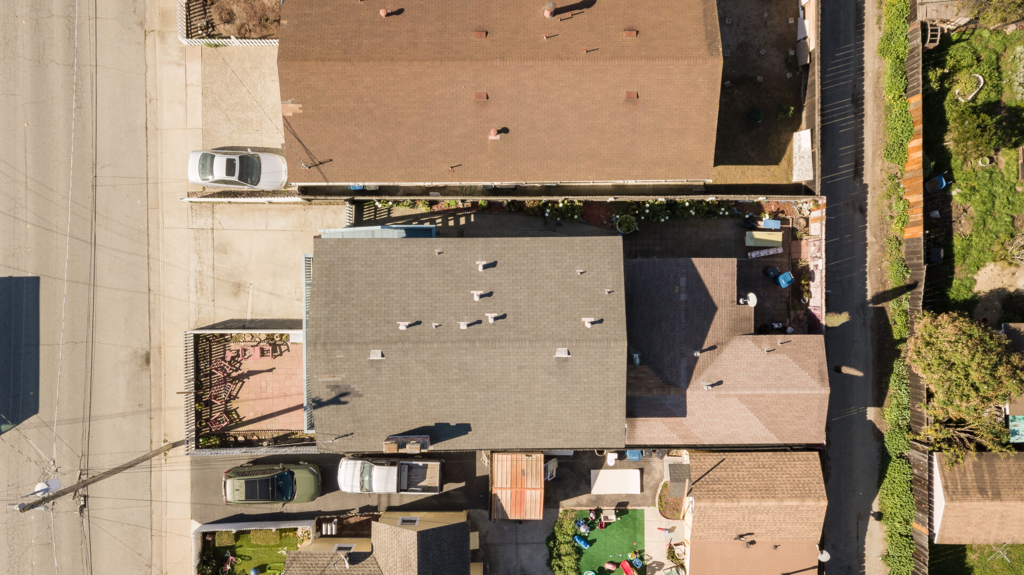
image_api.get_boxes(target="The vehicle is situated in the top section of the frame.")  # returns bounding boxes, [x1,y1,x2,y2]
[186,146,287,192]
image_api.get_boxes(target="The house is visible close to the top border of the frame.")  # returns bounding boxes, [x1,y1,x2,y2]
[276,0,722,187]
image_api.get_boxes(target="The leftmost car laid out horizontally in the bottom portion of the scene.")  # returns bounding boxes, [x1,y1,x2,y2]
[223,460,321,509]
